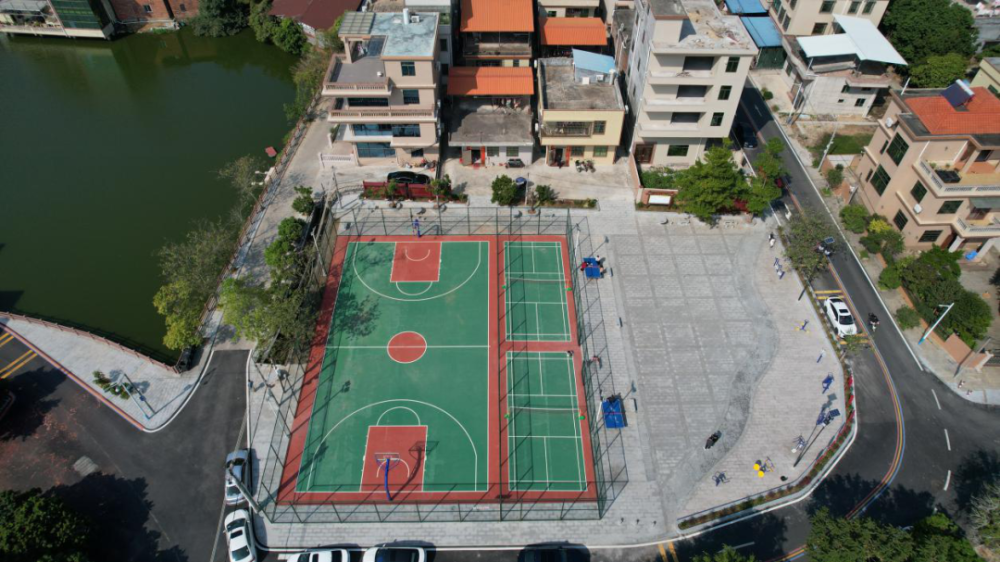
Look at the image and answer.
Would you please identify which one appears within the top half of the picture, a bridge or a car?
car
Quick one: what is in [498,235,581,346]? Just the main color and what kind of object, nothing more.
green sports court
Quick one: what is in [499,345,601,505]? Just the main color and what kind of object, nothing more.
green sports court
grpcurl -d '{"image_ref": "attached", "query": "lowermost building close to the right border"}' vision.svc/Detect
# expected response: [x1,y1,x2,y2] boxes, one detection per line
[848,76,1000,263]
